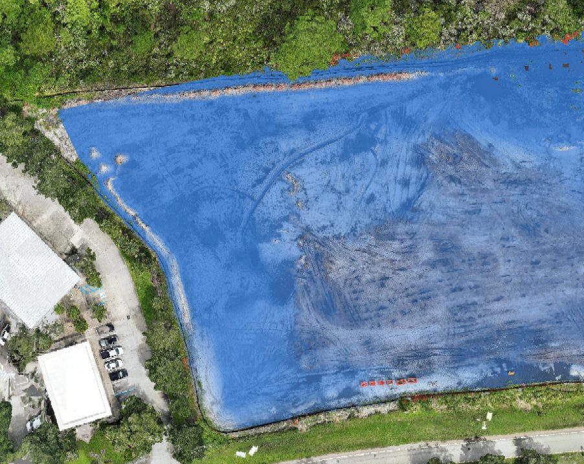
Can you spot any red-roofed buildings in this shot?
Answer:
No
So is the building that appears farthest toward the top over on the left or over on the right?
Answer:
left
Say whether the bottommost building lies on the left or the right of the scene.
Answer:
left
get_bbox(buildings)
[38,341,113,431]
[0,211,80,328]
